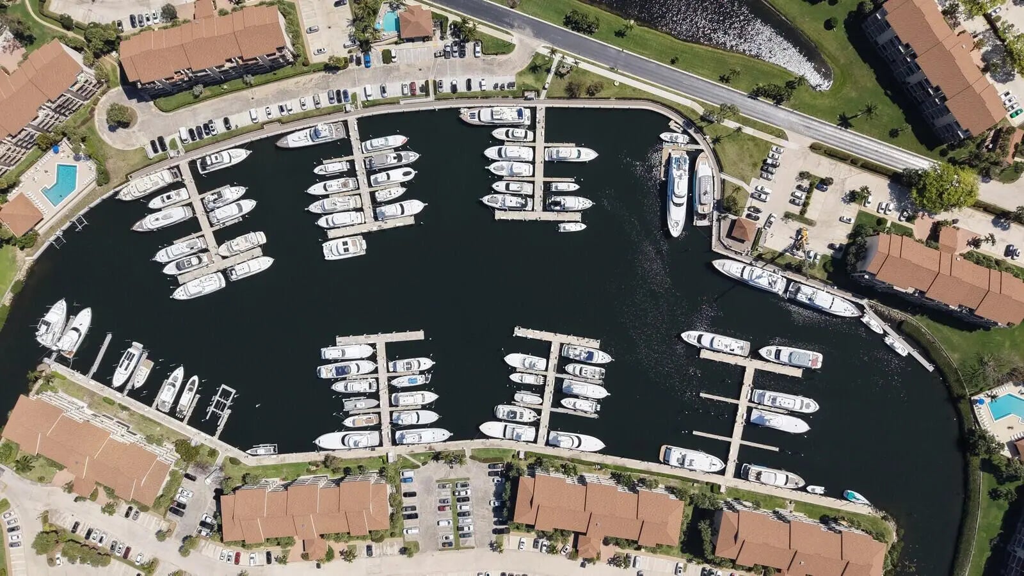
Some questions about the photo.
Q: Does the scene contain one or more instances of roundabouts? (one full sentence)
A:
Yes, the photo shows a roundabout.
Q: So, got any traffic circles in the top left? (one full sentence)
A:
Yes, I can see a traffic circle in the top left.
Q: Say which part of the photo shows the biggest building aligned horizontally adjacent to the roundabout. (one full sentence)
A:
You can find the biggest building aligned horizontally adjacent to the roundabout in the top left area of the picture.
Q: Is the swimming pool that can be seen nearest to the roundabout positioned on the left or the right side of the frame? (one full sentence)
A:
The swimming pool that can be seen nearest to the roundabout sits on the left side.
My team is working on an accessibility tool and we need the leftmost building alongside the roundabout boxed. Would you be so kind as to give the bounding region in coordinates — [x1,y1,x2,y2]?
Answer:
[0,36,98,170]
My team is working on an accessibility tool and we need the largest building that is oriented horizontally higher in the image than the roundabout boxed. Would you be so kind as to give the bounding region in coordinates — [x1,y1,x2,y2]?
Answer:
[115,3,294,95]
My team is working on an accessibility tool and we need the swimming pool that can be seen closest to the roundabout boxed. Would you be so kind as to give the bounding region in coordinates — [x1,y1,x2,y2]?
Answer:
[11,139,97,228]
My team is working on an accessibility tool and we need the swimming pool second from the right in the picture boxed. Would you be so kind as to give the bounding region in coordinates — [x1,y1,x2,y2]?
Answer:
[374,2,404,42]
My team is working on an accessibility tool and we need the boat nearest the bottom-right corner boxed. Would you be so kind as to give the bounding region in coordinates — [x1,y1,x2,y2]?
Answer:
[840,489,870,505]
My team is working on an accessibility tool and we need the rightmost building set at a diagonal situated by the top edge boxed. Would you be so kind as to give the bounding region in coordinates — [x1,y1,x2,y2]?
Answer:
[863,0,1013,142]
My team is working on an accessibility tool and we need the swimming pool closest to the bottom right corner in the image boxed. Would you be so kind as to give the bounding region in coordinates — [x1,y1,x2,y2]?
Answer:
[973,382,1024,456]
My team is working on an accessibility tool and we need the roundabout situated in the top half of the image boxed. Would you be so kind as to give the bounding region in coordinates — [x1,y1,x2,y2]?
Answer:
[94,86,154,151]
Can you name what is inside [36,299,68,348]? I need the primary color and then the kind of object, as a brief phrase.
white boat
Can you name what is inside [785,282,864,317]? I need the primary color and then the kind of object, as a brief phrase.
white boat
